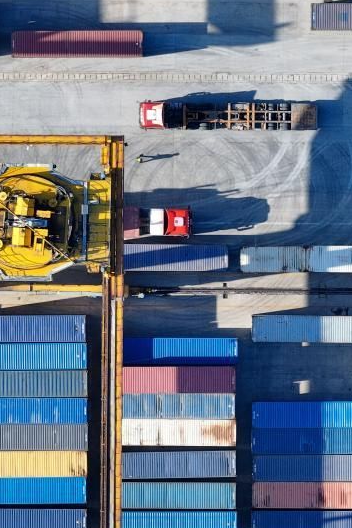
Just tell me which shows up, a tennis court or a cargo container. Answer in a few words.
cargo container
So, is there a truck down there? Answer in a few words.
Yes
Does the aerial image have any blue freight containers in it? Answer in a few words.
Yes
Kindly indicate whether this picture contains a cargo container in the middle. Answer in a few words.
Yes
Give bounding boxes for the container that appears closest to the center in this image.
[123,244,228,271]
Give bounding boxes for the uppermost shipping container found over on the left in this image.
[12,30,143,57]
